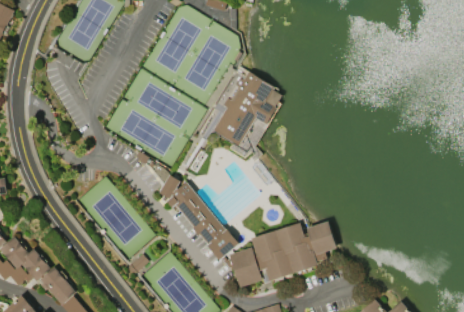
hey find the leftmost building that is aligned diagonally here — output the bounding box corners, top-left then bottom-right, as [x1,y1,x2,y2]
[0,256,30,288]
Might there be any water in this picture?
Yes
